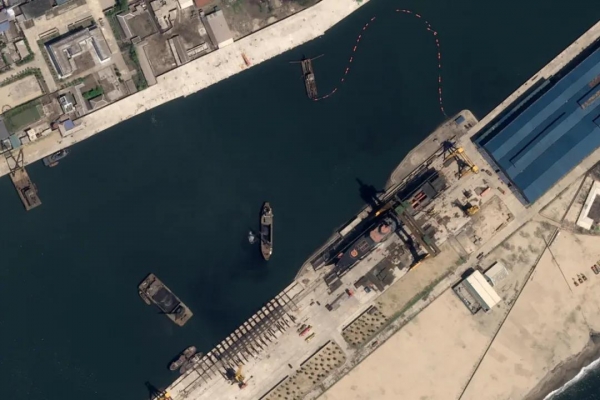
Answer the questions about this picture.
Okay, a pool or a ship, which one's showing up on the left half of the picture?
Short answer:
ship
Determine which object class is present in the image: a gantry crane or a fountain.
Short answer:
gantry crane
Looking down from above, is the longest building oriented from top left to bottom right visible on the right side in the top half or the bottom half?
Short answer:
bottom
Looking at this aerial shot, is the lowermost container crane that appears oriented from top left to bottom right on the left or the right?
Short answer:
right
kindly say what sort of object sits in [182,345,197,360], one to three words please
boat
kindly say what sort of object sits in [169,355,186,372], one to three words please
boat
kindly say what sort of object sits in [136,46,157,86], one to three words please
shed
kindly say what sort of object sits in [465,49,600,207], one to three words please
building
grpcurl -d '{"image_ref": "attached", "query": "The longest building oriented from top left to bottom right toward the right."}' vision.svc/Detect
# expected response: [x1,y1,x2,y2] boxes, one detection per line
[464,270,502,310]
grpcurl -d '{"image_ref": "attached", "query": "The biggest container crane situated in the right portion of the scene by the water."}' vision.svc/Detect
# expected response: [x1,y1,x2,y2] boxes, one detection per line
[372,184,440,272]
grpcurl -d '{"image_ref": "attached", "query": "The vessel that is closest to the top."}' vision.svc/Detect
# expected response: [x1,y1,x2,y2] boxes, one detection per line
[291,55,322,99]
